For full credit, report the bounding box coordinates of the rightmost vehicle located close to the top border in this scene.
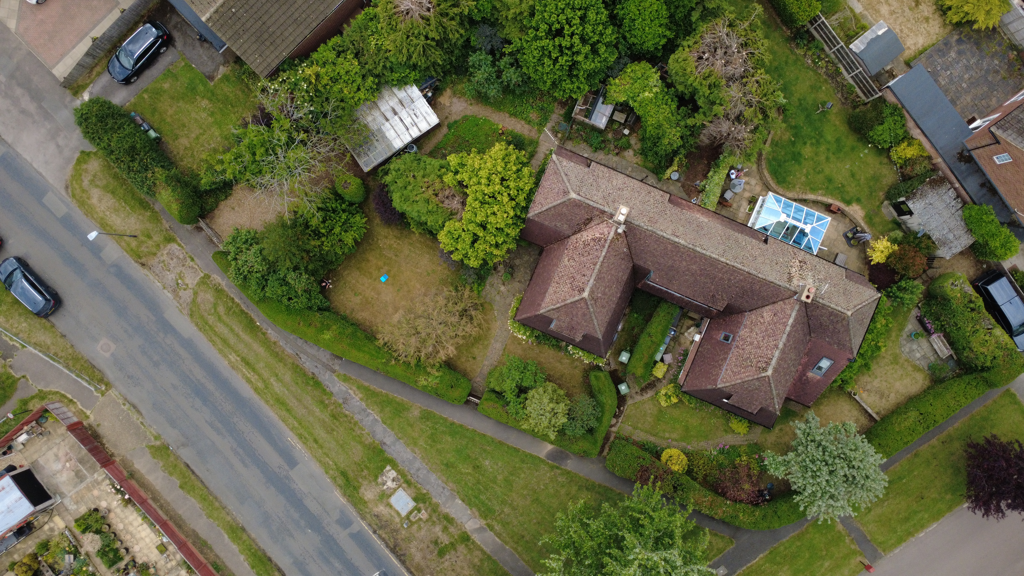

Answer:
[105,15,178,88]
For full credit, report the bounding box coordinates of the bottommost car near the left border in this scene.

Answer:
[0,251,70,322]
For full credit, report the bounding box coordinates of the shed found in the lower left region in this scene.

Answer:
[0,463,62,545]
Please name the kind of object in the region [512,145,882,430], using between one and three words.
house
